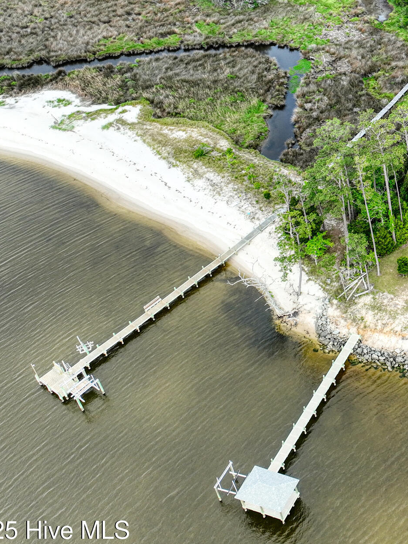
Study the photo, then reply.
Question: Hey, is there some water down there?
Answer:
Yes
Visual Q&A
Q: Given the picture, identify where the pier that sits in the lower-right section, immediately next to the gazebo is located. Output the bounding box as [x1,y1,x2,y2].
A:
[276,333,357,466]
